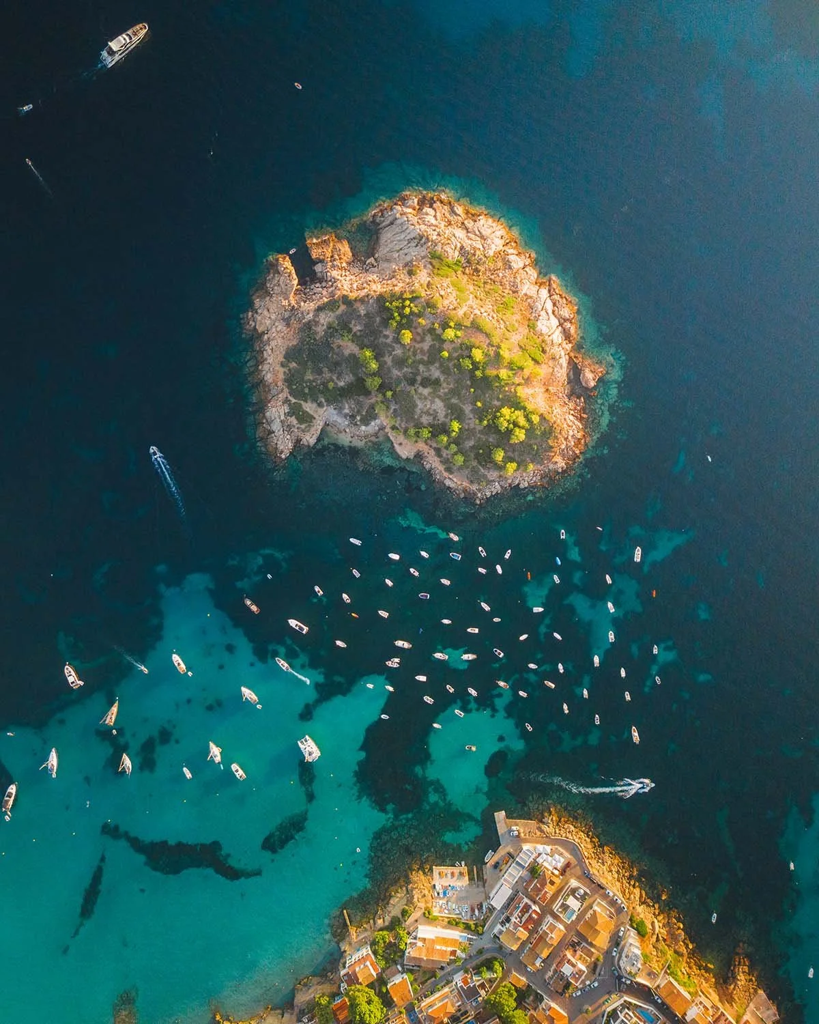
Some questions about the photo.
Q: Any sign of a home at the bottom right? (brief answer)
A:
Yes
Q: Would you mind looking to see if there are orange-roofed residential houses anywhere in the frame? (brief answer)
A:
Yes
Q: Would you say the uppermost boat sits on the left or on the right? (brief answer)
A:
left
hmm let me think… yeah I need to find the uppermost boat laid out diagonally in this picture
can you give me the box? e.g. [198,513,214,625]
[98,21,145,69]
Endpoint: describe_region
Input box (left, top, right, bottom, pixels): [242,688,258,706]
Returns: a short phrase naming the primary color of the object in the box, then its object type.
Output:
white boat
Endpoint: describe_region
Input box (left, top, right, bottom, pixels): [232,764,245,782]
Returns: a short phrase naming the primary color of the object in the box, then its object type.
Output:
white boat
